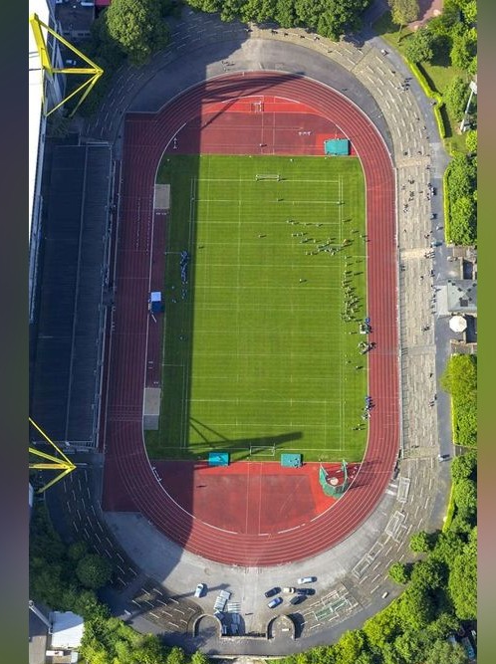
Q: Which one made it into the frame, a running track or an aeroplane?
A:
running track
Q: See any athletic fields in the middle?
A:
Yes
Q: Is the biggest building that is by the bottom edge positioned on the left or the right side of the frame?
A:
left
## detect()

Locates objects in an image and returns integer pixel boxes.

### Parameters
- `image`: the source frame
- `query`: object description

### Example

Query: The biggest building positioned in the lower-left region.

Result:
[50,610,83,651]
